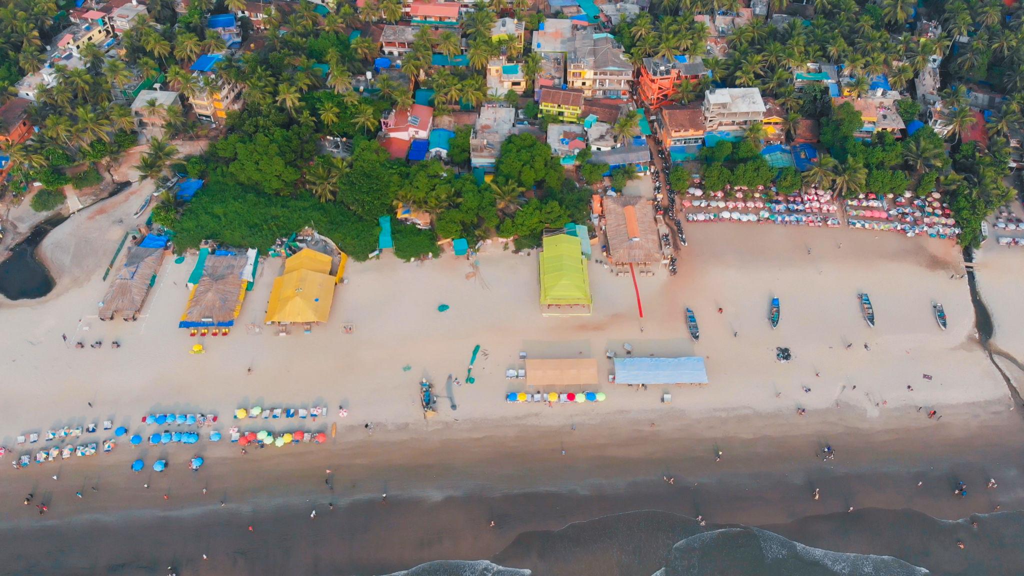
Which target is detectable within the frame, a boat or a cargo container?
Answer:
boat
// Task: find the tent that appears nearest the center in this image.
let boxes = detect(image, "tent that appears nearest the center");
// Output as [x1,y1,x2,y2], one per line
[539,235,593,316]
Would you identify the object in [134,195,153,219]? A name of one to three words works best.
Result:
boat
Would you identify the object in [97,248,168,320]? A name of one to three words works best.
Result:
shed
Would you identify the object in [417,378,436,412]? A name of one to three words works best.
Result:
boat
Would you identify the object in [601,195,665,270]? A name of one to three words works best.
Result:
building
